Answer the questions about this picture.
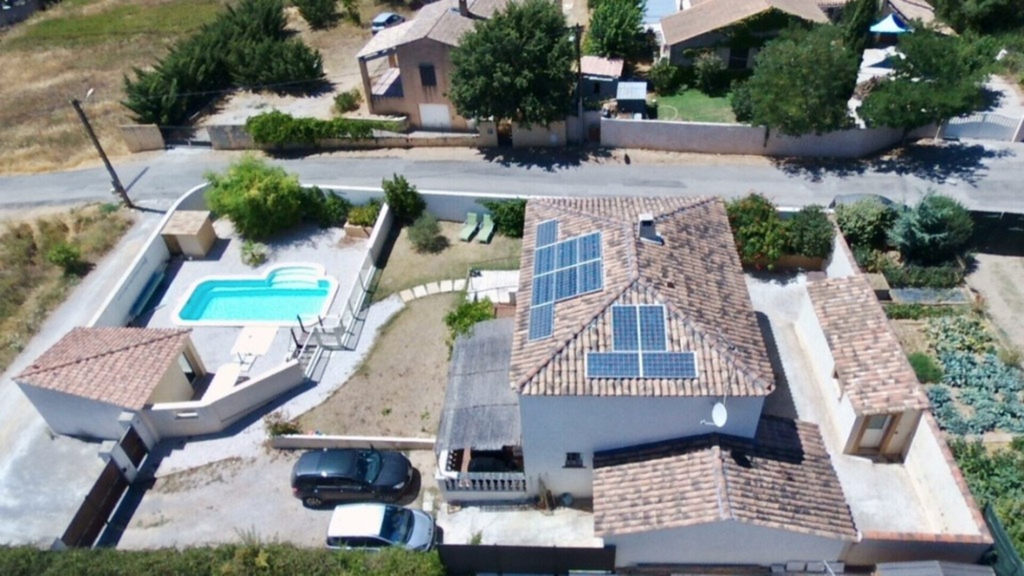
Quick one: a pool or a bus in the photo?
pool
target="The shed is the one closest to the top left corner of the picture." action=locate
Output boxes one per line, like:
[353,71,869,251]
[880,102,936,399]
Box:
[153,203,217,258]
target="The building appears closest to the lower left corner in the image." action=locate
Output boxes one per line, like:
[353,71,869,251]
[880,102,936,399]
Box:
[8,319,209,443]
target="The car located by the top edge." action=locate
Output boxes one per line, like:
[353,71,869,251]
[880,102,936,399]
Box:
[364,15,403,36]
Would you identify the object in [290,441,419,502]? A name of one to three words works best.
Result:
car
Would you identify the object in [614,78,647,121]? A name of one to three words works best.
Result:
shed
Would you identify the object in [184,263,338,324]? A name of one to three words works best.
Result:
swimming pool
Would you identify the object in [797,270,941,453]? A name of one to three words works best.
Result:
shed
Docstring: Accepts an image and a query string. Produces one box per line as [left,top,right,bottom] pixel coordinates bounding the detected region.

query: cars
[364,15,403,36]
[823,188,912,224]
[316,500,439,563]
[290,441,419,502]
